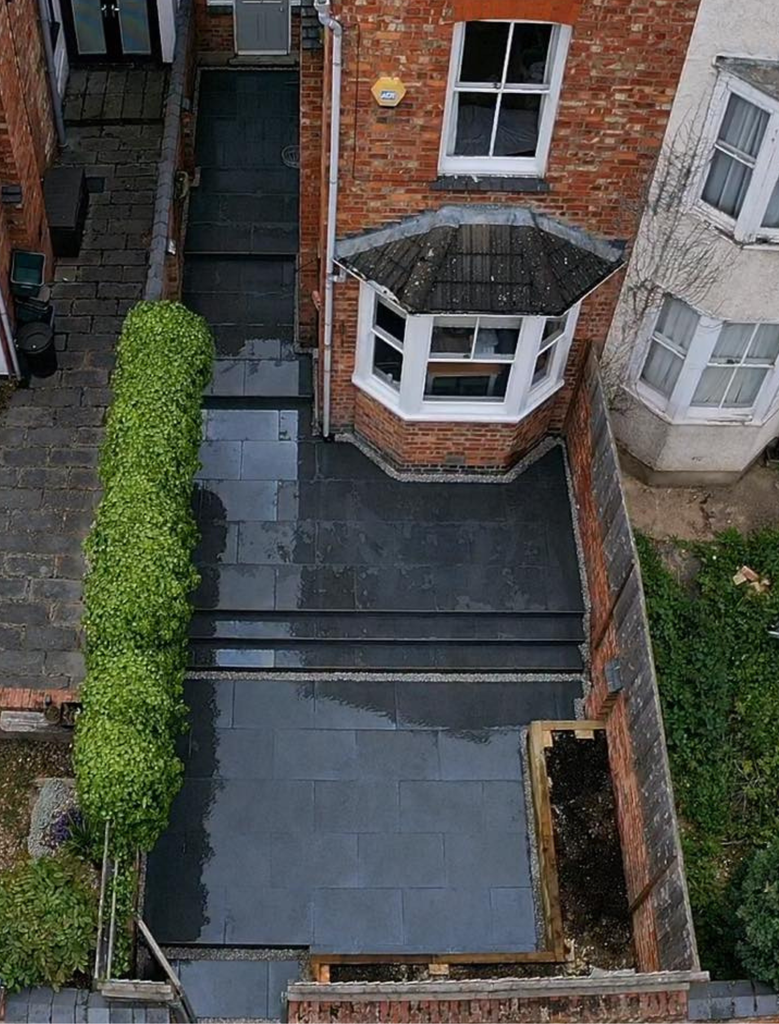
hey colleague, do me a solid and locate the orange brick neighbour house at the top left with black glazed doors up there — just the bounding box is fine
[0,0,179,377]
